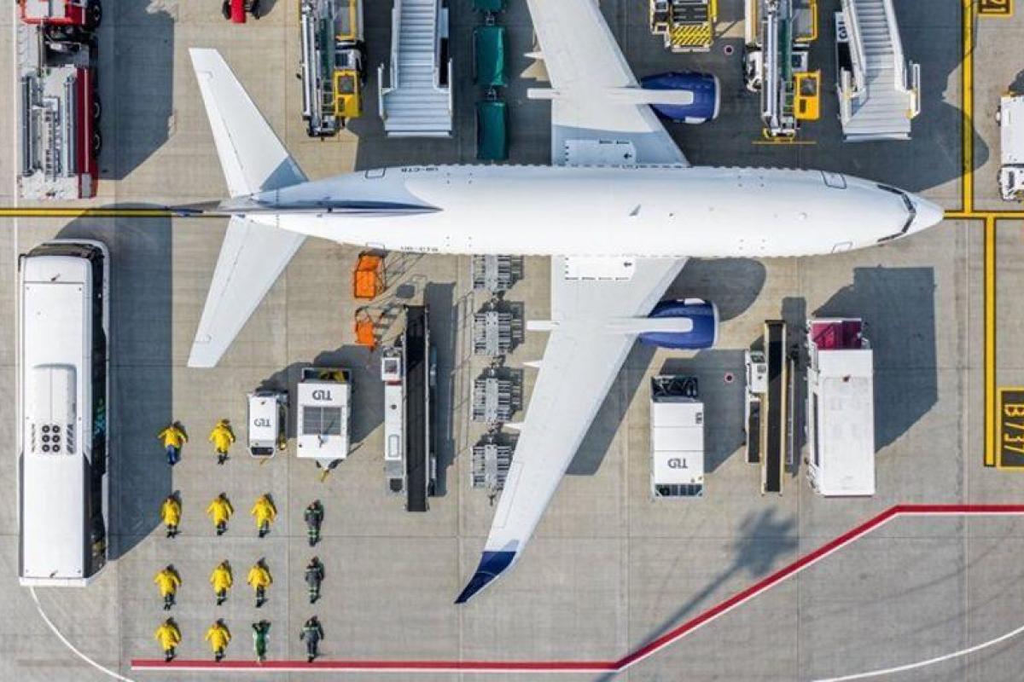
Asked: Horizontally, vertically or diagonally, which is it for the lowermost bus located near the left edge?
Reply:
vertically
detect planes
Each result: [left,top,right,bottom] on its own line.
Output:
[167,0,942,604]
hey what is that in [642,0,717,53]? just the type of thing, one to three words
work vehicle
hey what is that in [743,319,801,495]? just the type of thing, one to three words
work vehicle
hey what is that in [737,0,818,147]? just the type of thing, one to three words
truck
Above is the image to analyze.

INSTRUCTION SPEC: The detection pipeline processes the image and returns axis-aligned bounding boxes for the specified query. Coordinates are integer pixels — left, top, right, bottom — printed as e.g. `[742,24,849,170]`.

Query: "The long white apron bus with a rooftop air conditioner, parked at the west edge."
[17,240,111,586]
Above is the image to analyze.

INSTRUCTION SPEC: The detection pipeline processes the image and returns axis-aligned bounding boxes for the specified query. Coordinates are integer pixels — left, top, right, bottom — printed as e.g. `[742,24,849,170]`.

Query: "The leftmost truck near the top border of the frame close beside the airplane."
[20,0,102,203]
